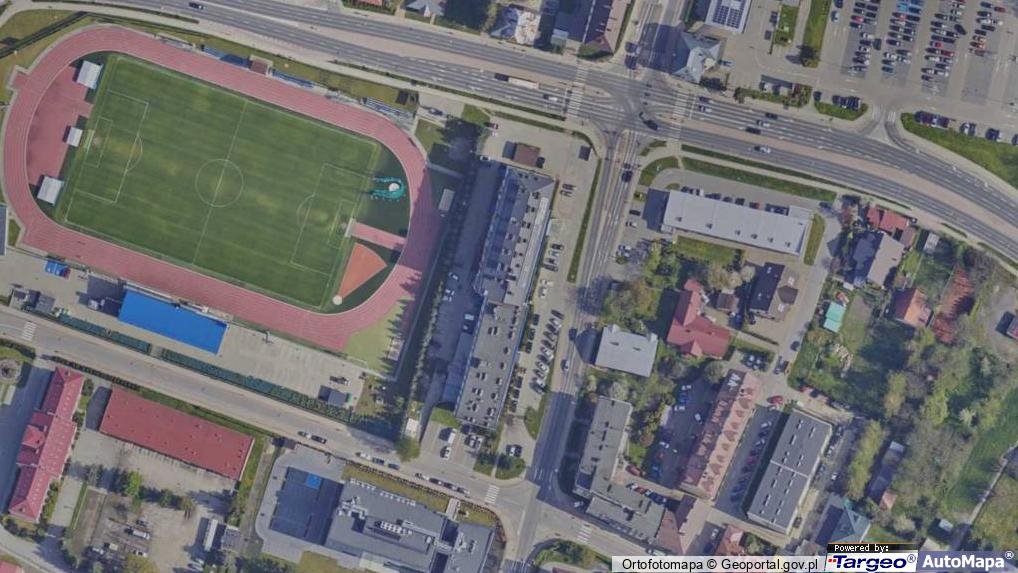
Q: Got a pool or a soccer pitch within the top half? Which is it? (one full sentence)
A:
The feature located within the top half is a soccer pitch.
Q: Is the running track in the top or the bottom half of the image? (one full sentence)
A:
The top half of the photo is where the running track is.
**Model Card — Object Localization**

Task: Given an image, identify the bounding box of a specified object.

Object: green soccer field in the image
[57,52,380,312]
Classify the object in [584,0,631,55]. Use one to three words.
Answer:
house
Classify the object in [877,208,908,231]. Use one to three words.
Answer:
shed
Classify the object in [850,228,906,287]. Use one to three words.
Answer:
house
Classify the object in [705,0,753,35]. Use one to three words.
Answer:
building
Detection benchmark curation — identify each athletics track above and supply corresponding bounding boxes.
[0,25,439,352]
